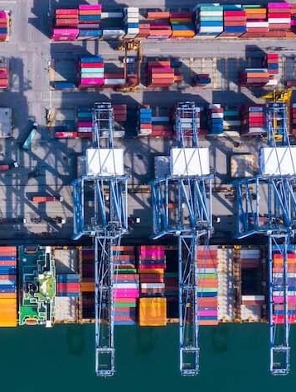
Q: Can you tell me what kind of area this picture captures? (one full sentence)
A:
This image shows a port.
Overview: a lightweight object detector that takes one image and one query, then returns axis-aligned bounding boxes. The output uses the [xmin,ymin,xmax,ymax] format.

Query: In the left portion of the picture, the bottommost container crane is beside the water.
[61,100,128,375]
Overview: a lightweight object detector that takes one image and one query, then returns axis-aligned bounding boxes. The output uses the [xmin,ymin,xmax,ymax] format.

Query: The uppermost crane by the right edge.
[254,84,290,141]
